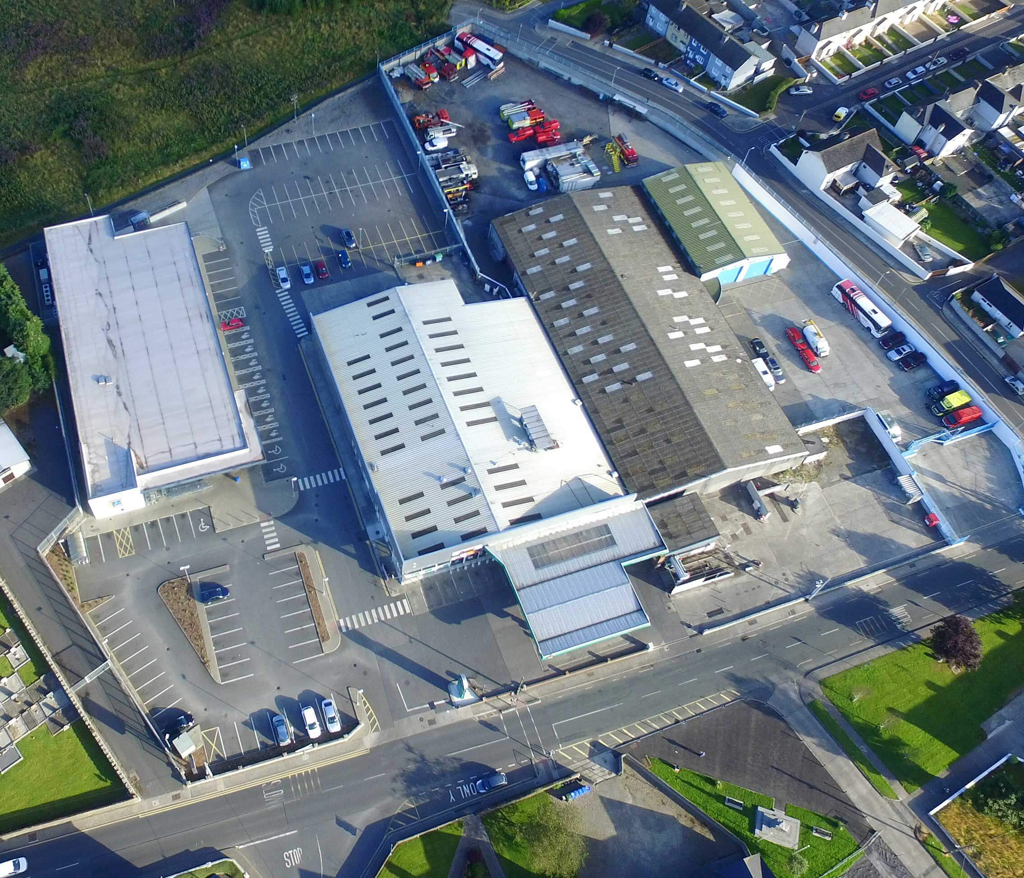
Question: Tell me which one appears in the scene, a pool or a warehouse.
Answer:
warehouse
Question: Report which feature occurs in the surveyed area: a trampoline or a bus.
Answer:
bus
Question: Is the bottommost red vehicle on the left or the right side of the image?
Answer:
right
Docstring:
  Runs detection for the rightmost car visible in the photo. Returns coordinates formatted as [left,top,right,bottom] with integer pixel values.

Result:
[1003,376,1024,397]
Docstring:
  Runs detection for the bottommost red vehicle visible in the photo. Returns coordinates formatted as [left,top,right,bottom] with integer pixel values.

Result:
[947,405,982,428]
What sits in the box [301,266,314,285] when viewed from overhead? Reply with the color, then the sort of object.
blue vehicle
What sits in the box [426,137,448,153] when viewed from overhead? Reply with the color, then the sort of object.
white vehicle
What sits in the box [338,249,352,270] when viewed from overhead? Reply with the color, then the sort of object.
blue car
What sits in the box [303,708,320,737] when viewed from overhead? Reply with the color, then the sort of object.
white car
